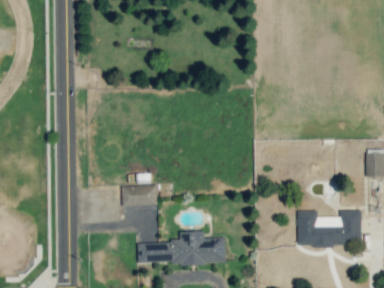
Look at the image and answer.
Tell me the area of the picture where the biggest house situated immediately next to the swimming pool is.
bottom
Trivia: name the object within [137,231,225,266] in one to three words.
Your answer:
house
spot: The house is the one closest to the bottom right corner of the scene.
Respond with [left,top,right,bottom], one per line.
[296,210,361,248]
